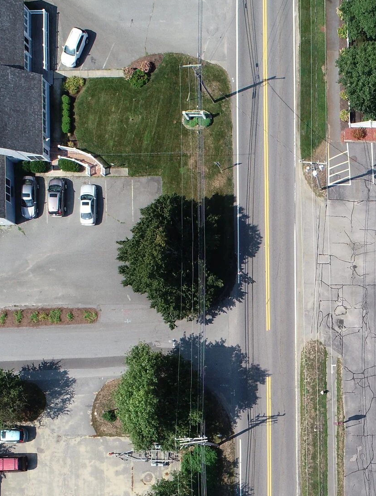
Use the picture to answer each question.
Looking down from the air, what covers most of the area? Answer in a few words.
paved ground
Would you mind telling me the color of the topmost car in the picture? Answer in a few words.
white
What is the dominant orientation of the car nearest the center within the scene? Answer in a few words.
up and down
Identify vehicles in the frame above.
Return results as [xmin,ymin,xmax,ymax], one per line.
[44,179,67,218]
[78,184,98,225]
[0,428,29,443]
[61,25,89,68]
[0,456,28,473]
[18,177,39,219]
